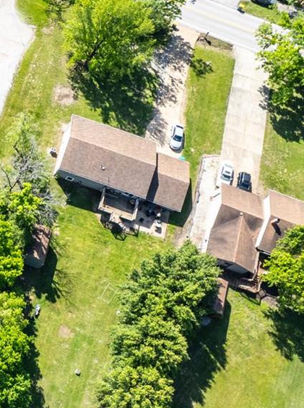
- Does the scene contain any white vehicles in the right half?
Yes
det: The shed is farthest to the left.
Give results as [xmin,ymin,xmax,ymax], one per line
[24,225,54,264]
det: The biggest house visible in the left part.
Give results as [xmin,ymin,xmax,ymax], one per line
[53,114,184,212]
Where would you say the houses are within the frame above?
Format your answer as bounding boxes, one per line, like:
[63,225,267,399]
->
[201,184,304,268]
[53,114,184,212]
